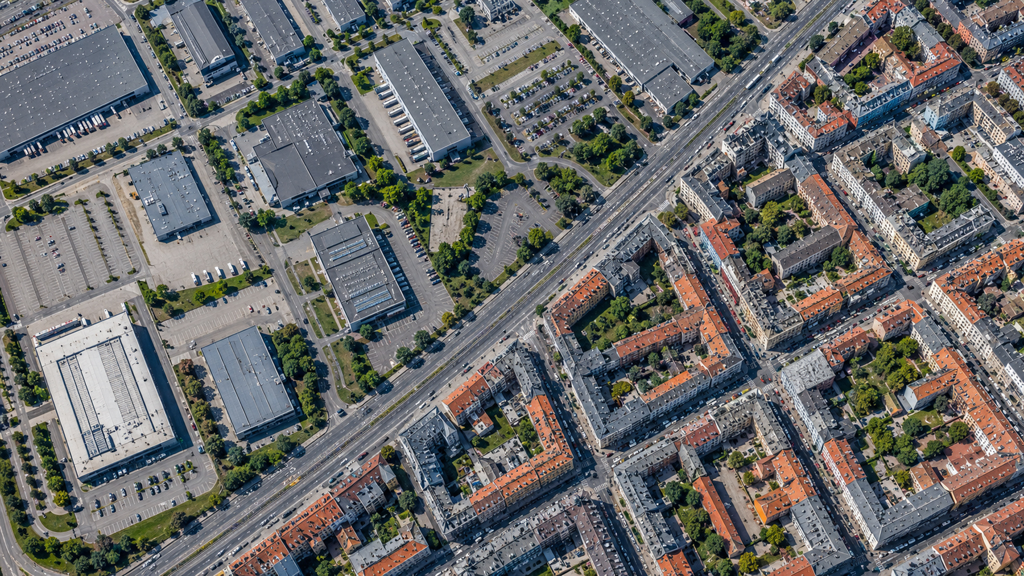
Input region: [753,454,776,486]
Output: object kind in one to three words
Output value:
house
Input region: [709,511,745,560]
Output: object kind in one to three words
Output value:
house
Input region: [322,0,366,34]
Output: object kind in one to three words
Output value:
building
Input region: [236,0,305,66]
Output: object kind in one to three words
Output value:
building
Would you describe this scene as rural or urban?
urban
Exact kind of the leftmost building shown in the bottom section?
warehouse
